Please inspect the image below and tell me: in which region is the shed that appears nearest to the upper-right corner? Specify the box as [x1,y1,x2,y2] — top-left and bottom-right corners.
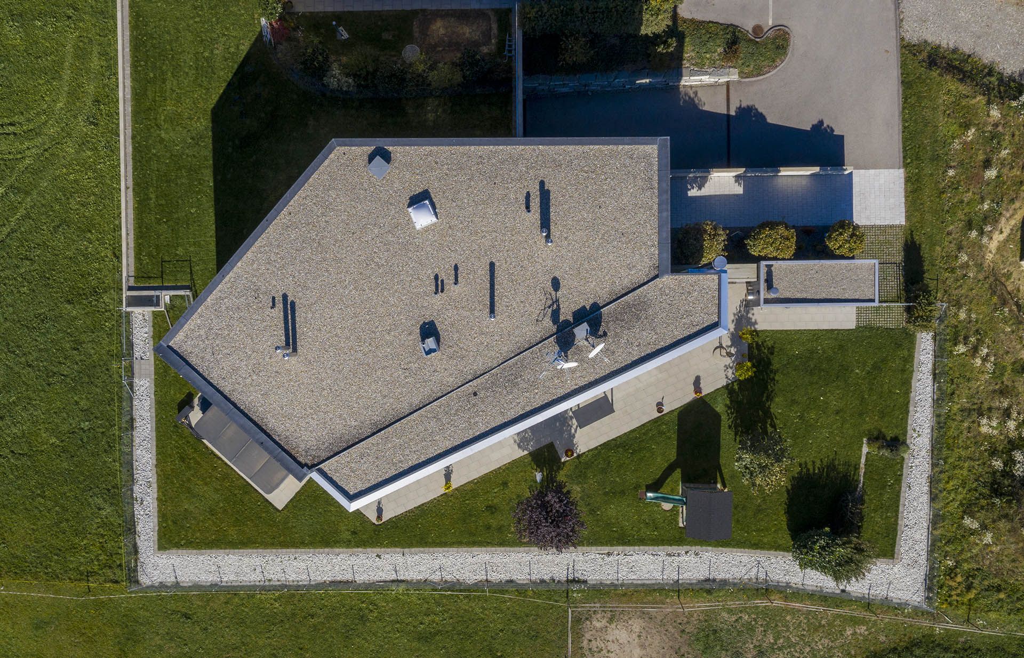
[744,260,878,307]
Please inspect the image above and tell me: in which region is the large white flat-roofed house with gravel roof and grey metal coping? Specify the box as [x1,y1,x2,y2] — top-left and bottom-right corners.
[155,137,727,511]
